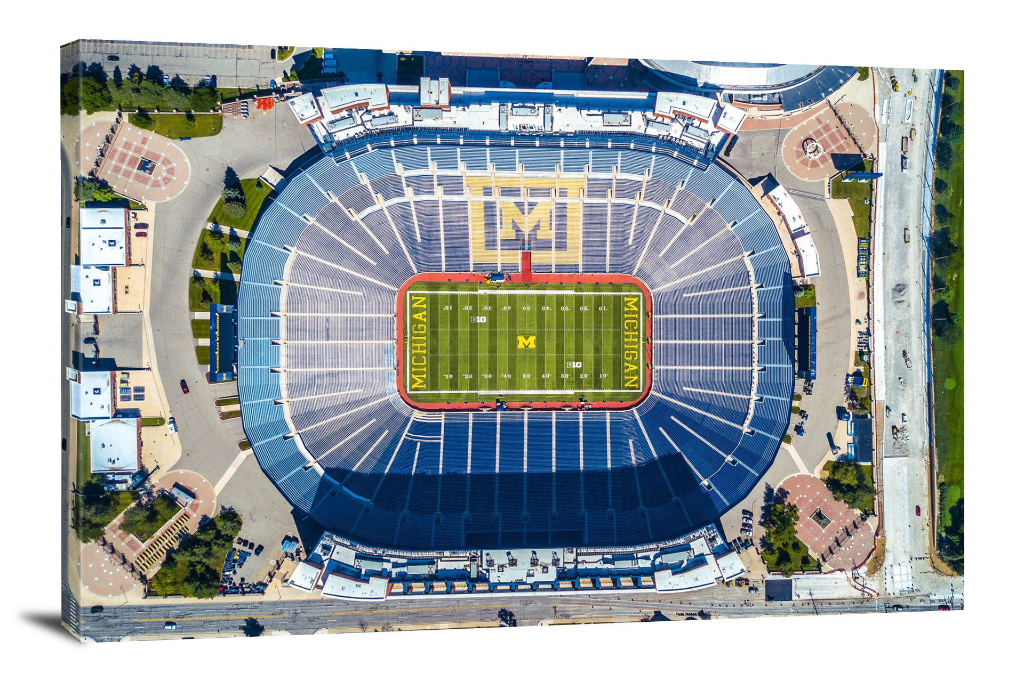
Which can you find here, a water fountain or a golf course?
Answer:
golf course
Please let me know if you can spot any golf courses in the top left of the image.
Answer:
No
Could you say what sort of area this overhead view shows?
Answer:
sports ground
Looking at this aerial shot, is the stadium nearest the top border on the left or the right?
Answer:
right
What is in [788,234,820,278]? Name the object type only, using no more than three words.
building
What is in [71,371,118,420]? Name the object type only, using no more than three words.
building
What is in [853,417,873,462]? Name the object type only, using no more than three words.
shed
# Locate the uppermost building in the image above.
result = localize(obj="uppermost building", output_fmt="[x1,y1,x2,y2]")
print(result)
[762,184,807,235]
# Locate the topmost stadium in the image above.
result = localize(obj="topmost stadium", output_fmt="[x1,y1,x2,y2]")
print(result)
[632,59,857,117]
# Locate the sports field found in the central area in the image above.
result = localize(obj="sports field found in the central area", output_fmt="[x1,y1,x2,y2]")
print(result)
[397,273,652,411]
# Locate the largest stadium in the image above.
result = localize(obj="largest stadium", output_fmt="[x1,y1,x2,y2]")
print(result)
[236,145,797,544]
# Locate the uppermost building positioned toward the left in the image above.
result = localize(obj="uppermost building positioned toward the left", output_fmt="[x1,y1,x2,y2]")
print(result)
[81,208,133,266]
